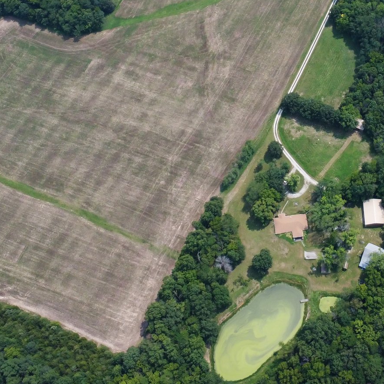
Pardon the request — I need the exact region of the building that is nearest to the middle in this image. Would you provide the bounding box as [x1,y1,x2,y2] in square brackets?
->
[273,213,308,244]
